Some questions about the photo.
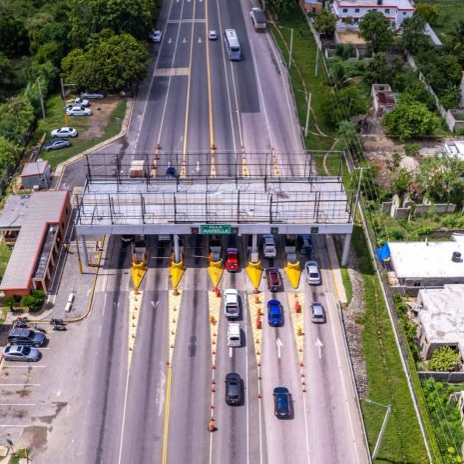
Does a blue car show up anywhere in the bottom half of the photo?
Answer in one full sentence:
Yes, there is a blue car in the bottom half of the photo.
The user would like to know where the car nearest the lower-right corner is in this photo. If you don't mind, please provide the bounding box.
[271,383,291,416]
